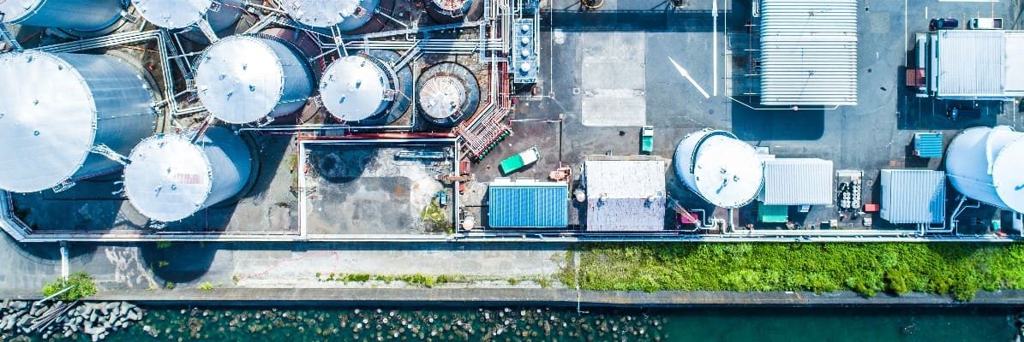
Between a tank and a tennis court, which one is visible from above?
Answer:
tank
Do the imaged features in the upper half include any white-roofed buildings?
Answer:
Yes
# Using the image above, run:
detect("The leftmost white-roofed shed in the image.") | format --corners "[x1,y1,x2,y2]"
[584,155,668,231]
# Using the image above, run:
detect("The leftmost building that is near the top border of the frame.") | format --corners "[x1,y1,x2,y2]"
[753,0,857,105]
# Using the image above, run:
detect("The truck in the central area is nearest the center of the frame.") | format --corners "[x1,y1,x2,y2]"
[499,145,540,175]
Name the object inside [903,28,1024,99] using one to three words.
building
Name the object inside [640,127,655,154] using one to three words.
vehicle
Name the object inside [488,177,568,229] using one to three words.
shed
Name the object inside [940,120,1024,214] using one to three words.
storage tank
